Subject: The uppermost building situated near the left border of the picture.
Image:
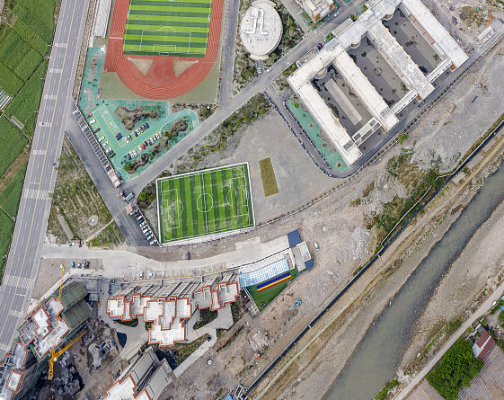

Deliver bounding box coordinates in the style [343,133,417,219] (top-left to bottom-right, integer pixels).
[20,283,93,359]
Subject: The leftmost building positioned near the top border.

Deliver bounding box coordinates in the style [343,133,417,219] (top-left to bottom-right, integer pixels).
[240,0,285,61]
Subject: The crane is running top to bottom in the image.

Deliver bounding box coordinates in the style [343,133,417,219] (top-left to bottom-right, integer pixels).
[47,263,86,380]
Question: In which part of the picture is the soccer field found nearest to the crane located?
center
